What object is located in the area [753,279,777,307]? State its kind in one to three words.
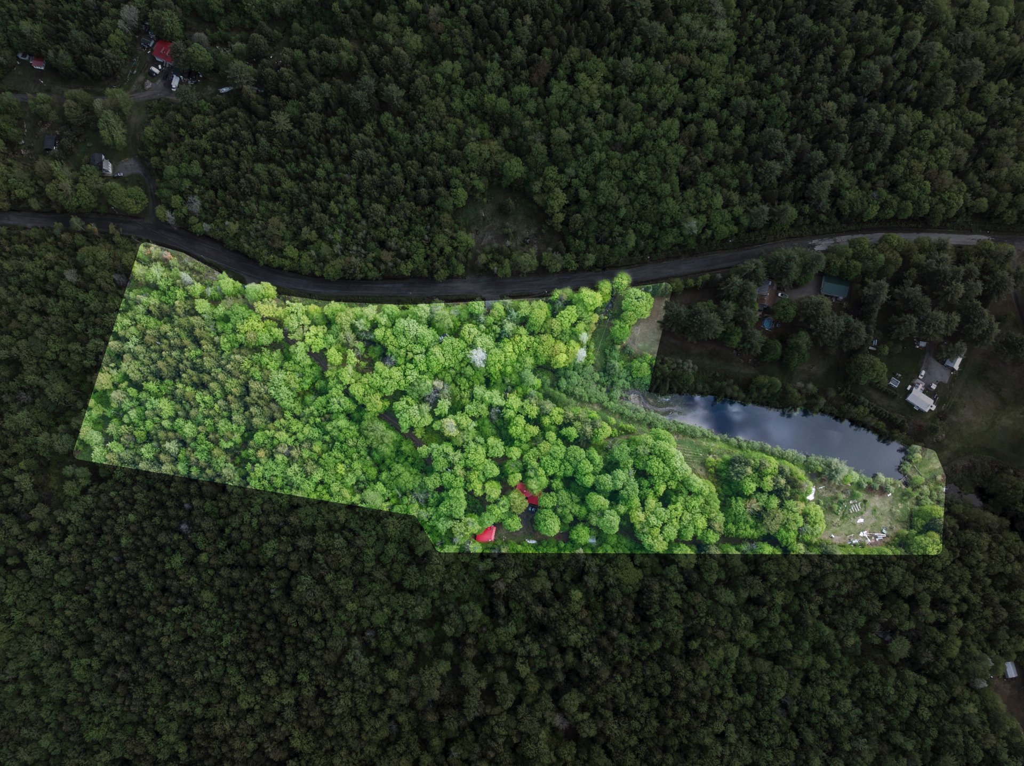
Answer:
house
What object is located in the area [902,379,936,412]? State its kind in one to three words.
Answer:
house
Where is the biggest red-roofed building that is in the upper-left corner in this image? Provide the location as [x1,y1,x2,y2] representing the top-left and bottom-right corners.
[150,40,179,72]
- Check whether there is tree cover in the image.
Yes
